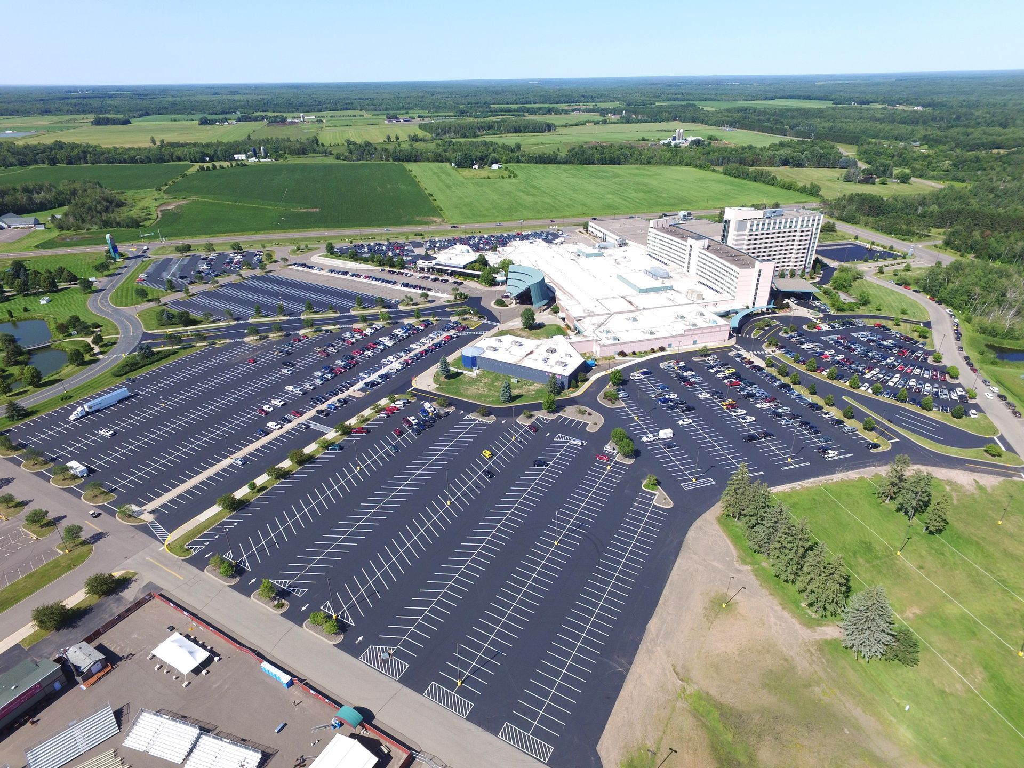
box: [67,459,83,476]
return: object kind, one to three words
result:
vehicle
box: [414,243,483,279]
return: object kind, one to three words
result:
building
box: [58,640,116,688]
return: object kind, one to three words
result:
building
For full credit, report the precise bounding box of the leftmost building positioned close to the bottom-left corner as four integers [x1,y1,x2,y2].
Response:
[0,652,67,732]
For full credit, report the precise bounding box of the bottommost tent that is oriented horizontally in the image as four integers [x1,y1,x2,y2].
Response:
[308,733,381,768]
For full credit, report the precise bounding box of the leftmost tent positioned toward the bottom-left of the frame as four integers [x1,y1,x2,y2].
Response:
[150,632,215,682]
